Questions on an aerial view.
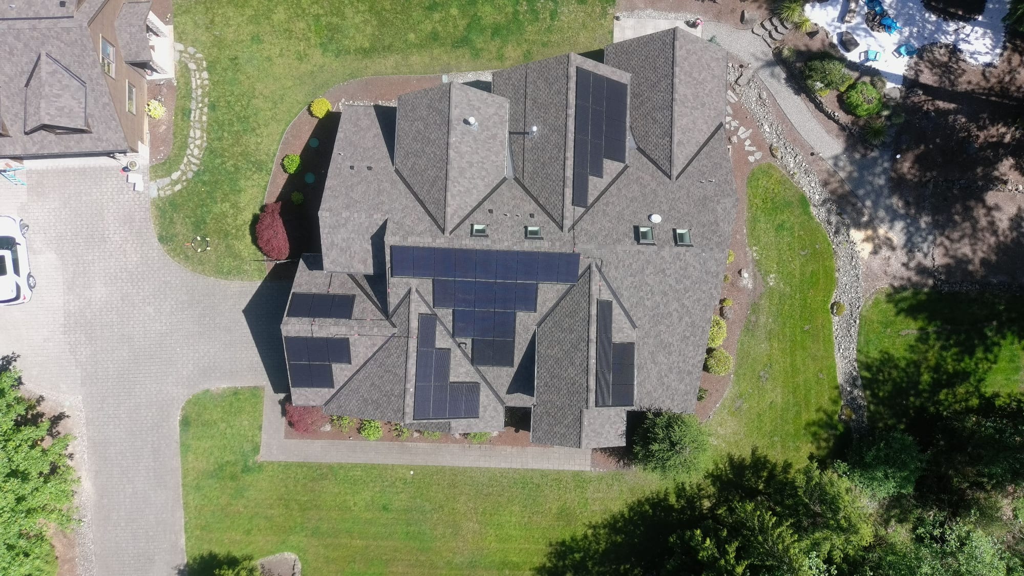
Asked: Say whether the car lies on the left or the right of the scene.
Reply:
left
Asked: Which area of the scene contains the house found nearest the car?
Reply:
top left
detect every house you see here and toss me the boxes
[280,27,736,449]
[0,0,175,160]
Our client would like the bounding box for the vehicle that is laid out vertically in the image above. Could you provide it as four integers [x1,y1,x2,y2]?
[0,216,40,305]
